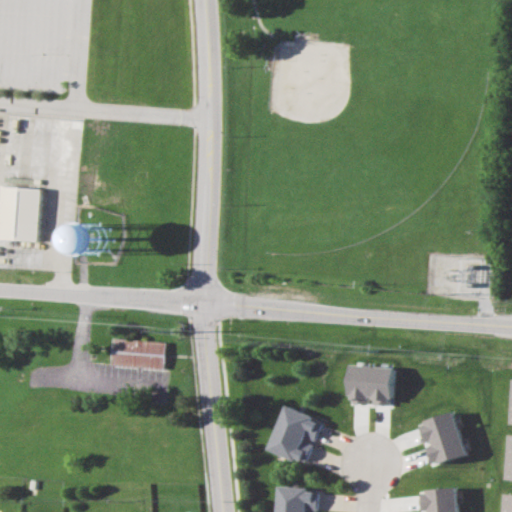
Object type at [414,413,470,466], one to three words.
house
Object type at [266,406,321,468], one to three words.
house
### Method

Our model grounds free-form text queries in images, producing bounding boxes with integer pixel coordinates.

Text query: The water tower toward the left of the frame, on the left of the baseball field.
[52,221,114,258]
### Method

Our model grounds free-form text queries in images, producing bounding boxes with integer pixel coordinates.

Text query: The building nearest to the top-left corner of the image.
[0,187,46,242]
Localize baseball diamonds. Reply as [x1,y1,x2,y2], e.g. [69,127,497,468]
[267,34,488,255]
